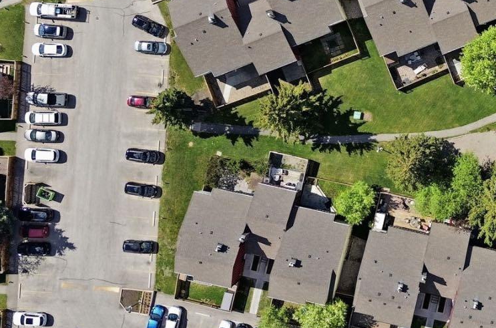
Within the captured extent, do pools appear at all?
No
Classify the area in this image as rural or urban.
urban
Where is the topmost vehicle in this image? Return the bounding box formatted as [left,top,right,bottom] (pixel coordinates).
[33,1,77,19]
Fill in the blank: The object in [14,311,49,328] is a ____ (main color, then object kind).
white car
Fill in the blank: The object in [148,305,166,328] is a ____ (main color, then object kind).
blue car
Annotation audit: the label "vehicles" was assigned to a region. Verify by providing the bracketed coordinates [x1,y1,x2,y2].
[217,317,235,328]
[26,147,61,163]
[33,1,77,19]
[166,304,184,328]
[26,92,70,108]
[14,311,49,328]
[127,147,163,164]
[18,207,57,223]
[33,23,69,39]
[135,39,167,55]
[17,240,52,256]
[148,305,166,328]
[126,182,161,198]
[25,127,61,144]
[123,239,159,254]
[25,109,63,126]
[127,95,159,109]
[134,14,166,36]
[33,42,69,57]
